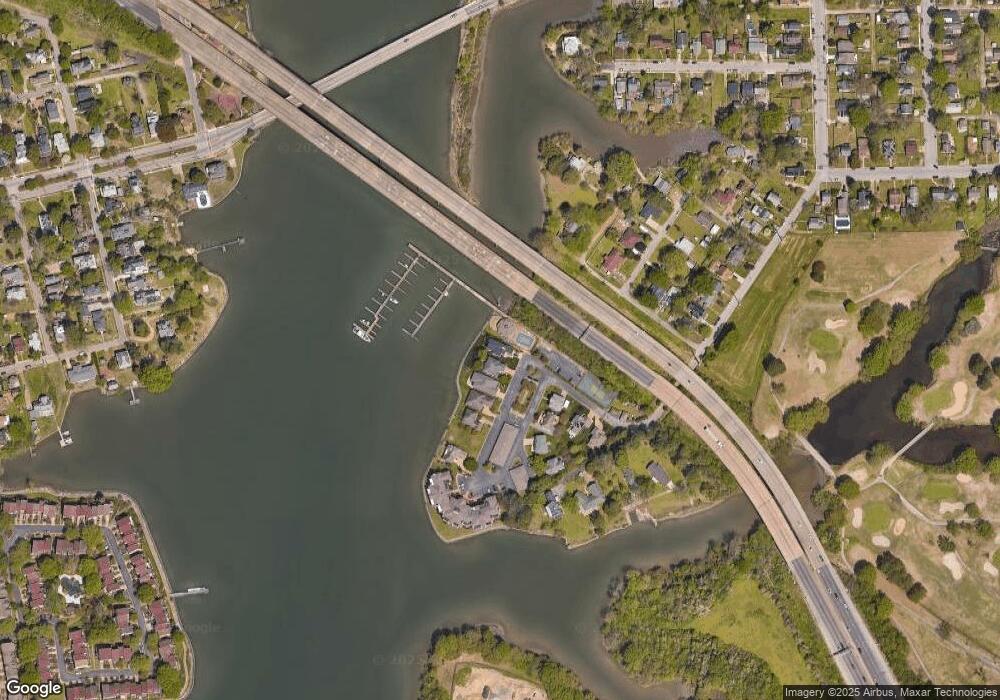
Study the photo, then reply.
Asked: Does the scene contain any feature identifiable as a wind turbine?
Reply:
No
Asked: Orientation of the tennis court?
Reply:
at an angle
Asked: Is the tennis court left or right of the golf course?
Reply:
left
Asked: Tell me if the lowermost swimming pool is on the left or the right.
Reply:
left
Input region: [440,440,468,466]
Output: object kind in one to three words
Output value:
house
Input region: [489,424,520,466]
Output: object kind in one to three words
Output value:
building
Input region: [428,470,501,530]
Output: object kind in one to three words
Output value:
building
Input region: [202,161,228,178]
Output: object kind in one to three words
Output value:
house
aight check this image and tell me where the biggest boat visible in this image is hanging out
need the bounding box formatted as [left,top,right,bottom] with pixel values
[353,324,369,340]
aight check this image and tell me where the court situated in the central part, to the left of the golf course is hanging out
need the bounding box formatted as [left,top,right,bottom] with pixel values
[578,374,618,409]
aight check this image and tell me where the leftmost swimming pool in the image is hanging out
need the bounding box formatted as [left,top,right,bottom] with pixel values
[59,574,82,604]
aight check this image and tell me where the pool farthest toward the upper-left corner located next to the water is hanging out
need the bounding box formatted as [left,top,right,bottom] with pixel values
[196,191,209,208]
